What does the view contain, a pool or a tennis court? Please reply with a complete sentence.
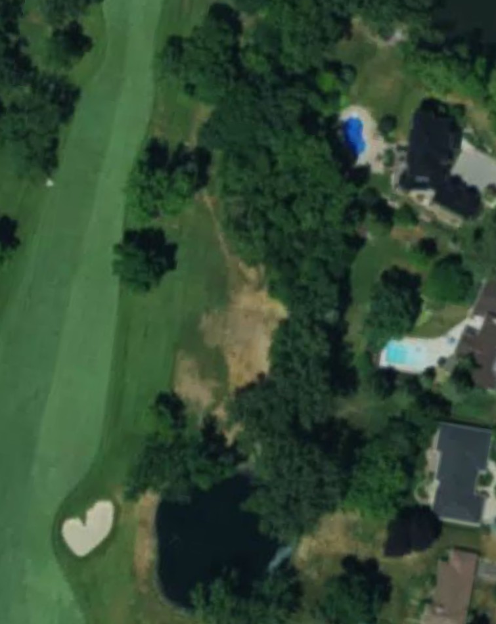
This aerial view contains a pool.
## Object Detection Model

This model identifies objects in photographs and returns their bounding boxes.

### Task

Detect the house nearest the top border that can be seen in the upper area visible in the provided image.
[400,110,482,218]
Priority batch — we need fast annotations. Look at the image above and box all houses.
[400,110,482,218]
[433,423,492,522]
[457,277,496,383]
[423,549,478,624]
